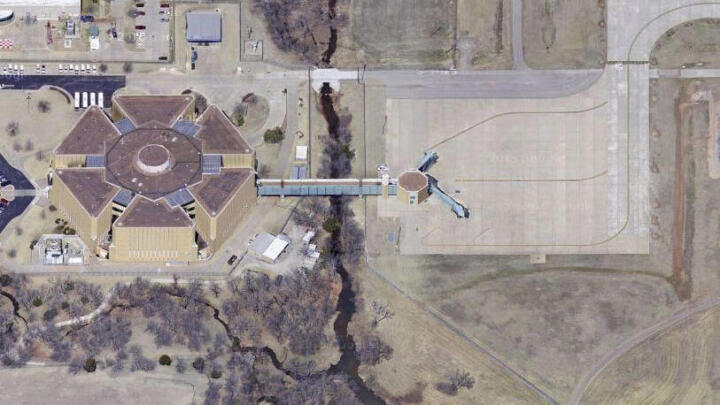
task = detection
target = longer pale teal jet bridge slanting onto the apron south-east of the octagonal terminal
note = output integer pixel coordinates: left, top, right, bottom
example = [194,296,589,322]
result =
[428,179,468,220]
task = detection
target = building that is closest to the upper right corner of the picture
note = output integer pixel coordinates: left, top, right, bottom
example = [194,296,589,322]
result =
[398,170,428,205]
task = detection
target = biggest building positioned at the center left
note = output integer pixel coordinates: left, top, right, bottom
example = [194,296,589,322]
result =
[46,96,255,264]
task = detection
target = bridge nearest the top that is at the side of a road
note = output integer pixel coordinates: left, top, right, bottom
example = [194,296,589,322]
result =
[311,68,358,94]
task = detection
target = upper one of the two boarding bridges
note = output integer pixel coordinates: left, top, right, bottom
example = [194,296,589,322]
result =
[415,153,438,174]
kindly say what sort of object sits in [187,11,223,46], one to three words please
building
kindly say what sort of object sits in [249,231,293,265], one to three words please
building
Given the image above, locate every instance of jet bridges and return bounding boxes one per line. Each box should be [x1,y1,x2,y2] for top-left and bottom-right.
[428,179,468,220]
[415,153,438,174]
